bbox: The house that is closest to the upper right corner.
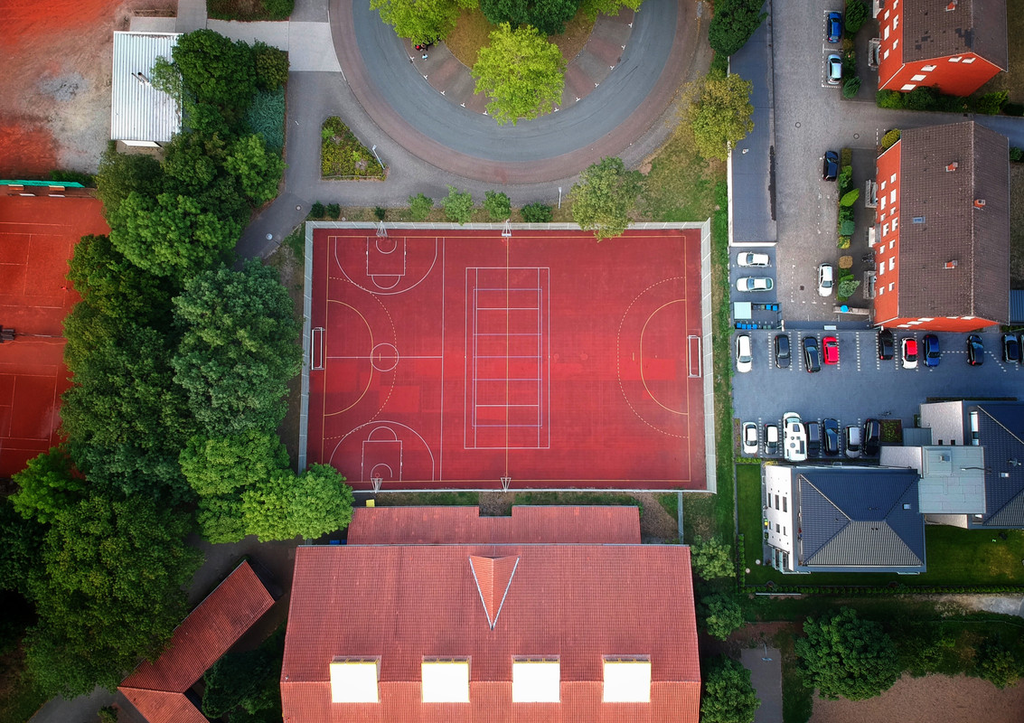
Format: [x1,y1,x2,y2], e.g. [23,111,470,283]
[867,0,1008,96]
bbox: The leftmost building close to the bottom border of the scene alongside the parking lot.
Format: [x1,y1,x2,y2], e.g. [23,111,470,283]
[280,505,701,723]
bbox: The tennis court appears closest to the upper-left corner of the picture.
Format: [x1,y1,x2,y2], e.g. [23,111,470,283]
[0,198,114,336]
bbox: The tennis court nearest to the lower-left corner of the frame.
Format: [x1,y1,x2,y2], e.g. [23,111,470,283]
[0,335,93,476]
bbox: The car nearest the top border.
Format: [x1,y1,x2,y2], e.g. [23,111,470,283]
[826,14,843,43]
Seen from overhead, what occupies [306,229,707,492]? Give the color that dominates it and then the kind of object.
red sports court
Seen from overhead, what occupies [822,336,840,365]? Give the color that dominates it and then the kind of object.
red car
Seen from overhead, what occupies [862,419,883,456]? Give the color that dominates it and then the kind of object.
black car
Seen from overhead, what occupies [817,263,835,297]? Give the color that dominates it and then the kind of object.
white car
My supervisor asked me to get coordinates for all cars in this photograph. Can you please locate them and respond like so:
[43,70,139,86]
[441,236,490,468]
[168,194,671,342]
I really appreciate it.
[735,276,773,292]
[843,426,863,458]
[735,335,754,372]
[862,419,883,456]
[965,334,985,365]
[877,329,895,360]
[826,14,843,43]
[820,418,840,456]
[822,336,840,365]
[817,263,835,297]
[921,334,941,368]
[822,152,840,181]
[999,333,1021,364]
[773,335,792,369]
[825,55,843,86]
[736,251,769,267]
[801,337,821,373]
[899,337,919,370]
[742,422,760,454]
[763,424,780,455]
[804,422,822,457]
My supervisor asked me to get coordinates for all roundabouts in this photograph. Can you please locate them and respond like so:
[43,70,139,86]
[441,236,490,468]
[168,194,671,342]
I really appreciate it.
[330,0,703,185]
